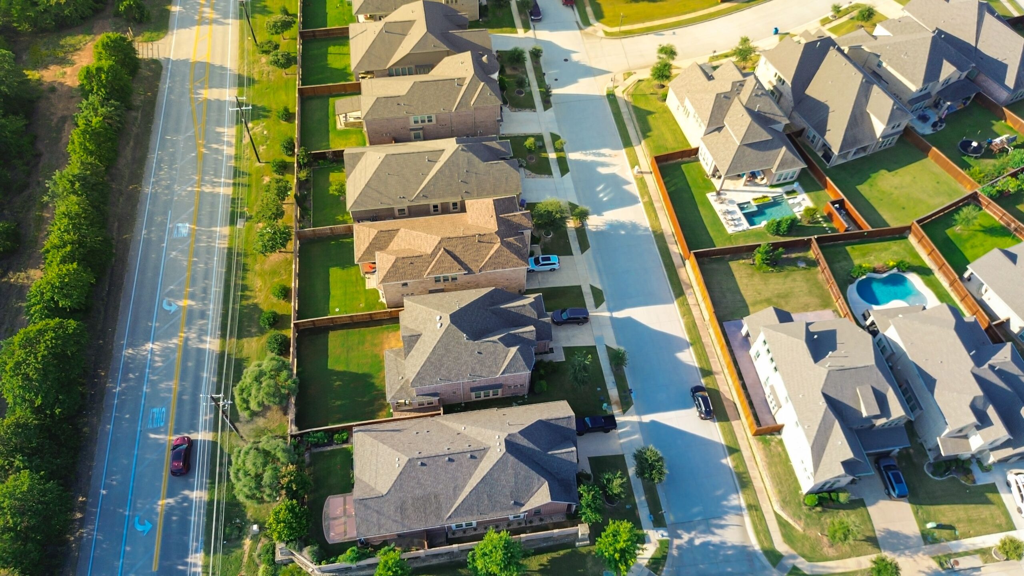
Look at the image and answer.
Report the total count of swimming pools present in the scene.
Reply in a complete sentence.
In total, 2 swimming pools can be seen.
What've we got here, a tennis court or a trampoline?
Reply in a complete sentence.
It is a trampoline that can be seen here.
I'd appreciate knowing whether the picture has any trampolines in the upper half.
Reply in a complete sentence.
Yes, a trampoline is visible in the upper half.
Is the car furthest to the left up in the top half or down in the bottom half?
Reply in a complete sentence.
The bottom half of the photo is where the car furthest to the left is.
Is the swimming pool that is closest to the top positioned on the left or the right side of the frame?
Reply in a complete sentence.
It is on the right.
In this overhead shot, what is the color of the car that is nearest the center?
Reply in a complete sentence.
The car that is nearest the center is blue.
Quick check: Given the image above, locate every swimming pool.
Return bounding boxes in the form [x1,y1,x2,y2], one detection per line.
[707,181,809,233]
[848,268,943,326]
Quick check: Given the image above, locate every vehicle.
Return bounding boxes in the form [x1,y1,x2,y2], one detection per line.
[999,471,1024,513]
[551,306,590,328]
[690,386,716,423]
[528,254,563,274]
[876,458,911,499]
[527,0,543,20]
[170,437,193,477]
[577,413,621,438]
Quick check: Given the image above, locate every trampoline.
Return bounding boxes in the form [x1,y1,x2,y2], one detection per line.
[958,130,990,157]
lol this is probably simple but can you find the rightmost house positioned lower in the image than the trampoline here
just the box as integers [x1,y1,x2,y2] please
[963,241,1024,344]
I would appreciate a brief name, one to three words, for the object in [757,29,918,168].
house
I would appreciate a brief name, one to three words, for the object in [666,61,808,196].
house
